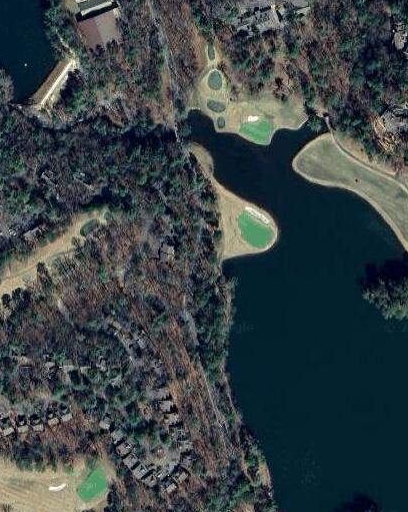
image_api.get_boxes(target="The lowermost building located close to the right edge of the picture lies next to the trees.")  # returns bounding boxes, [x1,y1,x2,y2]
[374,108,408,137]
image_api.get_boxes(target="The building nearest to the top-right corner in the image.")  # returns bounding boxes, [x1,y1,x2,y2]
[393,21,408,49]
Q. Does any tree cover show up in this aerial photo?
Yes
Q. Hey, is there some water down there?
Yes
